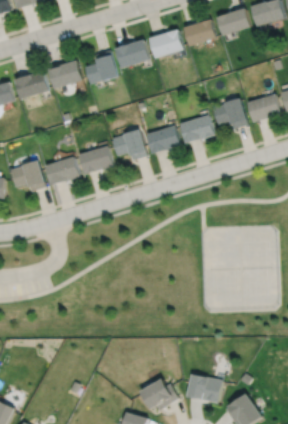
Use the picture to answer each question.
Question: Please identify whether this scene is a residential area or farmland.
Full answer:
The area seen from above is a residential area.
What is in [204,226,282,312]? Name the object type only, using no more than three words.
sports court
